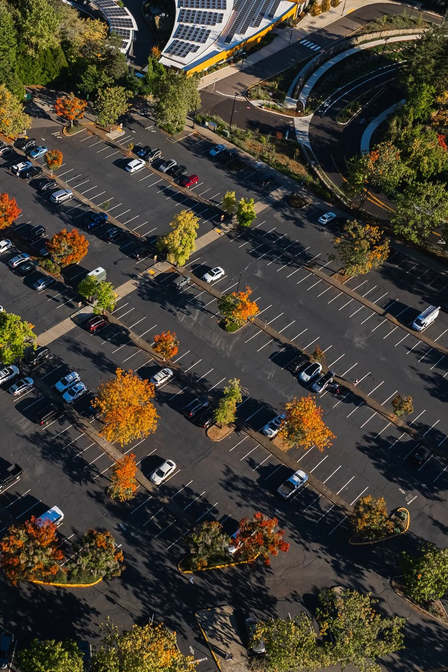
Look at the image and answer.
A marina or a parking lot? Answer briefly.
parking lot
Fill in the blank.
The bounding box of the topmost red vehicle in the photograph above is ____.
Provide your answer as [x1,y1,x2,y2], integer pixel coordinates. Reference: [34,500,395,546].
[181,175,201,189]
